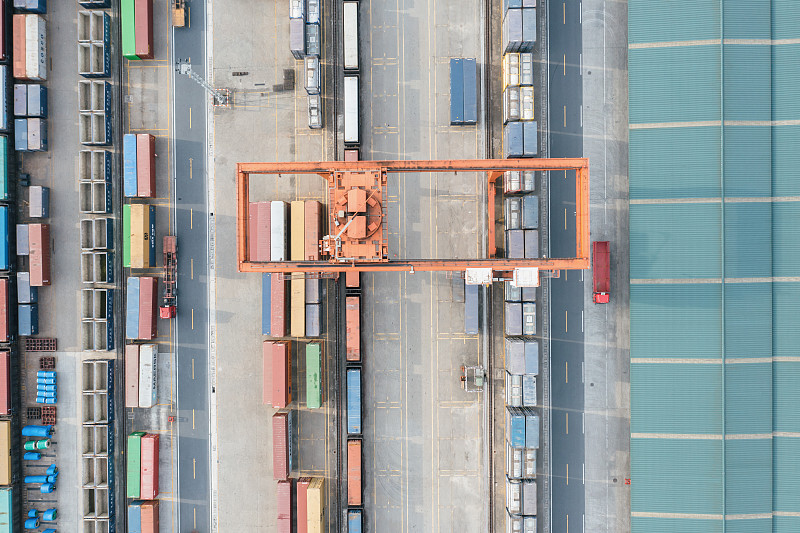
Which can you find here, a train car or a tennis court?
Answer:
train car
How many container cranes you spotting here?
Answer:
1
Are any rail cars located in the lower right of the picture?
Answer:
No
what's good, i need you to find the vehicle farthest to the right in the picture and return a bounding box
[593,241,612,304]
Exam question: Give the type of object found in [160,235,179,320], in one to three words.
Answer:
vehicle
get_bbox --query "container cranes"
[238,158,591,288]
